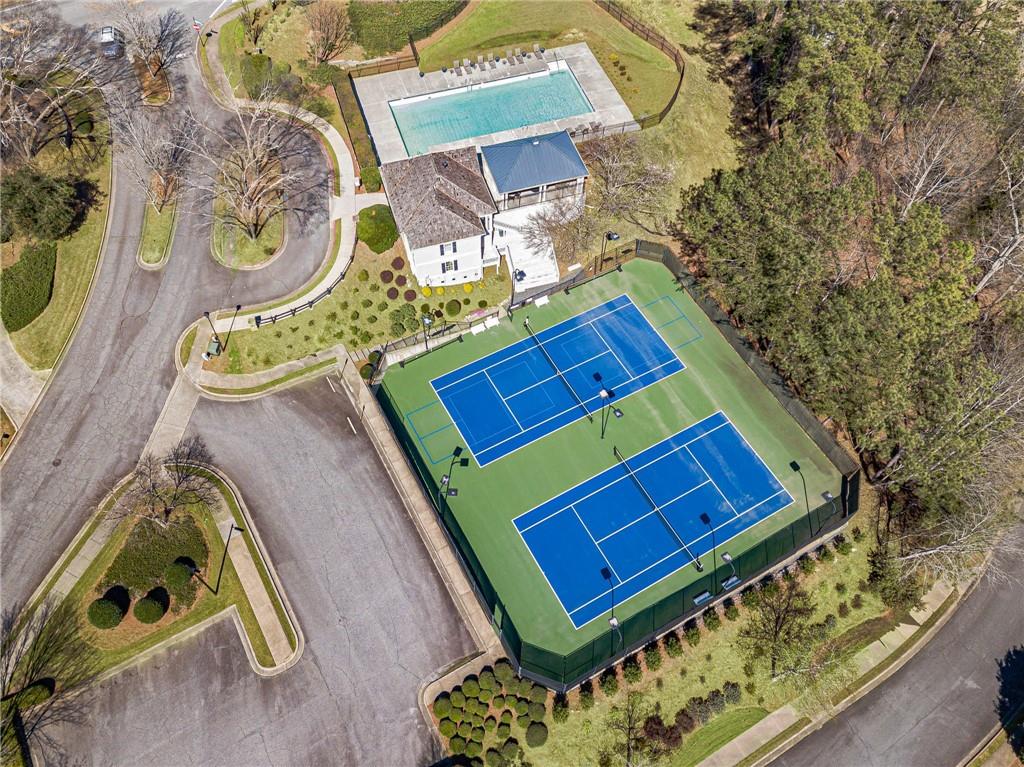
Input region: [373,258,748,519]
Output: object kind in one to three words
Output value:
tennis court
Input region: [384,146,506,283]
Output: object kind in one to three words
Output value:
house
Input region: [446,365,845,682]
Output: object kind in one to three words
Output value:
tennis court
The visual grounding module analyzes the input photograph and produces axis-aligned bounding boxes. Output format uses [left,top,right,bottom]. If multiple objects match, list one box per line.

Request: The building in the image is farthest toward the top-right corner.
[480,131,589,210]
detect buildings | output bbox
[480,131,589,210]
[384,146,506,283]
